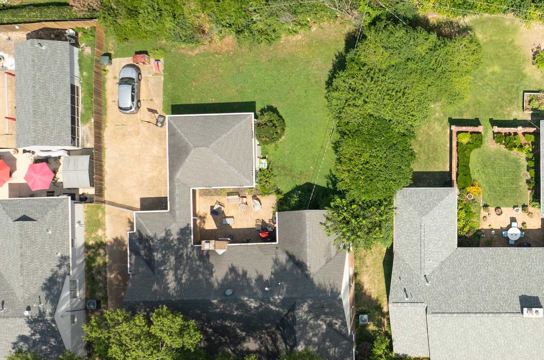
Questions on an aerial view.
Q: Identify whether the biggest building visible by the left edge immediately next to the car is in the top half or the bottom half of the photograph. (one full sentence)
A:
The biggest building visible by the left edge immediately next to the car is in the top half of the image.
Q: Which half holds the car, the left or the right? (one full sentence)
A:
The car appears in the left half of the scene.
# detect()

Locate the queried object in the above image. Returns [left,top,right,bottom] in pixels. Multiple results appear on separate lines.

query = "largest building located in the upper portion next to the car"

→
[14,40,93,151]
